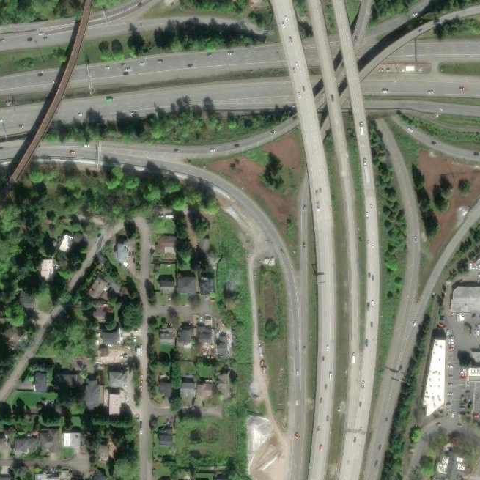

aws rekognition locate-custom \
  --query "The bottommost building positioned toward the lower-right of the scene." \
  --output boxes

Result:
[435,455,466,479]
